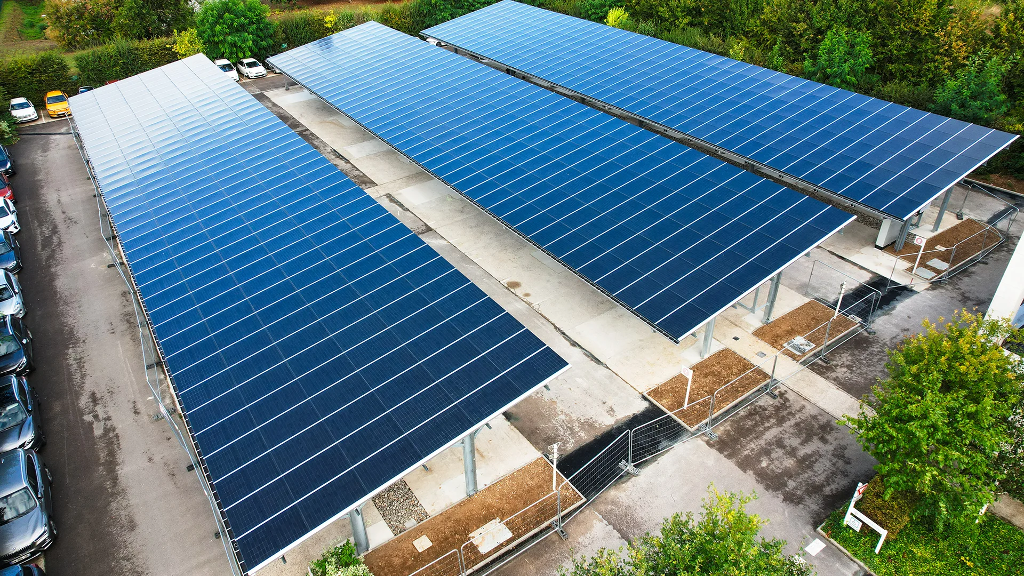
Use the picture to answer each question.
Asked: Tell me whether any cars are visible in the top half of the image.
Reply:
Yes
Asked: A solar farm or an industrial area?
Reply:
solar farm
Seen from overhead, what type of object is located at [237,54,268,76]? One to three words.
car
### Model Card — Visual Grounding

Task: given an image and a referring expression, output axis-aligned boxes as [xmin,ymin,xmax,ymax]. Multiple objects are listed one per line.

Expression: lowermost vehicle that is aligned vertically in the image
[0,446,57,572]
